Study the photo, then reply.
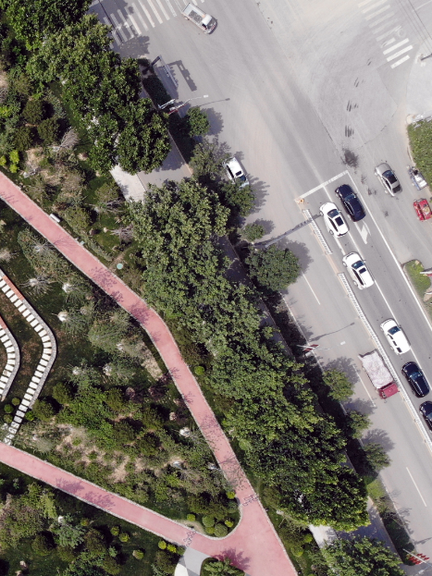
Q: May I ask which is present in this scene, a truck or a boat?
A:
truck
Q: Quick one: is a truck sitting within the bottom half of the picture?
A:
Yes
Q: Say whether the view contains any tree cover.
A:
Yes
